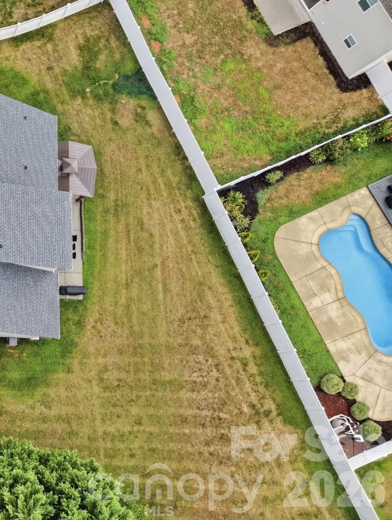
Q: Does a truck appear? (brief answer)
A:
No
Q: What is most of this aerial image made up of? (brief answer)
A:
grass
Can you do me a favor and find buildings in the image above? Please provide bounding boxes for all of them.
[0,95,75,339]
[301,0,392,79]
